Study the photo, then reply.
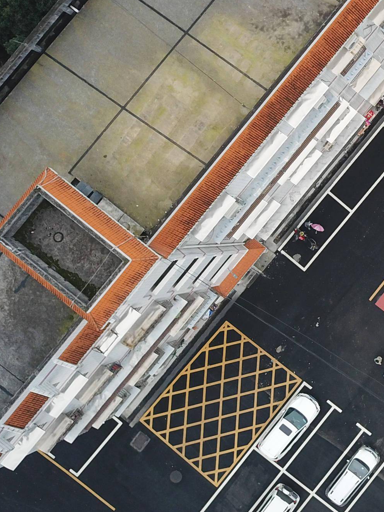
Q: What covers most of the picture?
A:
buildings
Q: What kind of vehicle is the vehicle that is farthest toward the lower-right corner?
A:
automobile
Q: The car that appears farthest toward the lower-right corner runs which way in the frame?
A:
at an angle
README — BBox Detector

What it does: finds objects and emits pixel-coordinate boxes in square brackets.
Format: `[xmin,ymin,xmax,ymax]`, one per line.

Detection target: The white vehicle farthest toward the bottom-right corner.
[323,443,381,510]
